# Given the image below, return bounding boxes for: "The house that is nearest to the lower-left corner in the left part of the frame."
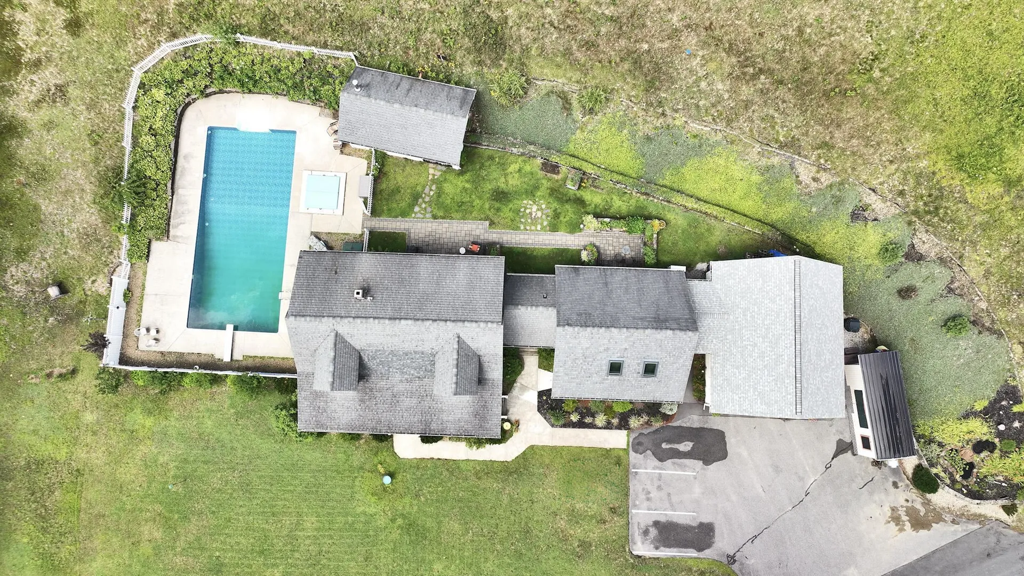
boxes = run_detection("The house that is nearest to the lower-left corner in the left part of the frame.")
[284,249,509,439]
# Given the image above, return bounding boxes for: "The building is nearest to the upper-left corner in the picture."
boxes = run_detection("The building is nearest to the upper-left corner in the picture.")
[338,65,478,174]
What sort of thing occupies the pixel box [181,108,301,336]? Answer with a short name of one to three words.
swimming pool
